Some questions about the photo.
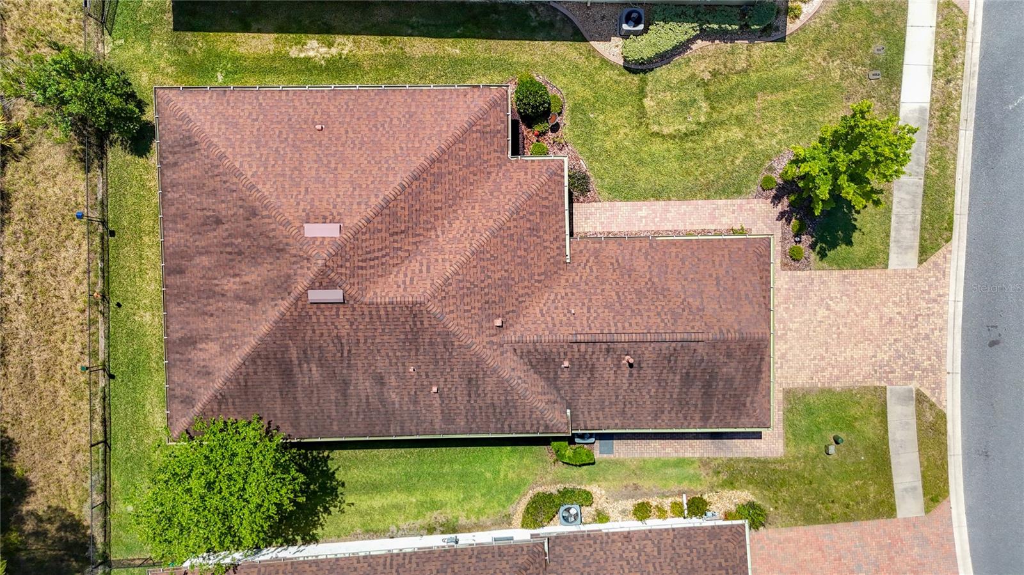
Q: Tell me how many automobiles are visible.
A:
none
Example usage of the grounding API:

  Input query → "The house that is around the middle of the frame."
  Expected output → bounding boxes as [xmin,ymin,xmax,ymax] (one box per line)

[154,84,776,444]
